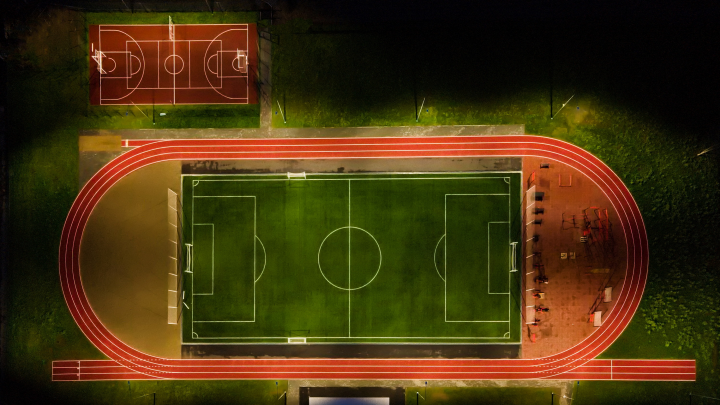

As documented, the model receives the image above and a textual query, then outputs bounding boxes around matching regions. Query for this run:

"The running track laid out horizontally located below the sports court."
[52,133,696,382]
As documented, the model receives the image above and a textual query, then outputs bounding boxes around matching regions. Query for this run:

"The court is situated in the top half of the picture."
[89,23,258,105]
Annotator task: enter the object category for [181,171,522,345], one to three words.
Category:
soccer field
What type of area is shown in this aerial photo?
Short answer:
sports ground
